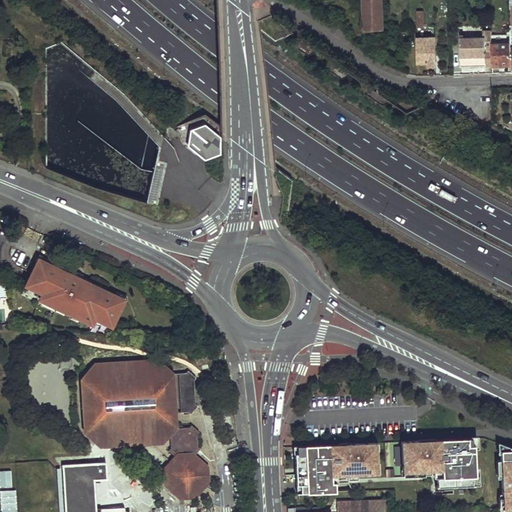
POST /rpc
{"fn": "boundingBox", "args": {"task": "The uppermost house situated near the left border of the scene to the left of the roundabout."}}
[22,258,127,330]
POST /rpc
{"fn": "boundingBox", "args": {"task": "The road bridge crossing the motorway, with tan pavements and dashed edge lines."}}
[217,0,280,196]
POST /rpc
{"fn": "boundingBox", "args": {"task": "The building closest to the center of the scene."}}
[188,126,222,161]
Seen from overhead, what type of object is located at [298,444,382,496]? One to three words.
building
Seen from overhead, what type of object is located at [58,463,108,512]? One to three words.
building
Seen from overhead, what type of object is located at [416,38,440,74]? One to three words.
house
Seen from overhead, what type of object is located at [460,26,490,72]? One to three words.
house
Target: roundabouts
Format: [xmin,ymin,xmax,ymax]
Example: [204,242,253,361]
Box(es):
[205,236,321,353]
